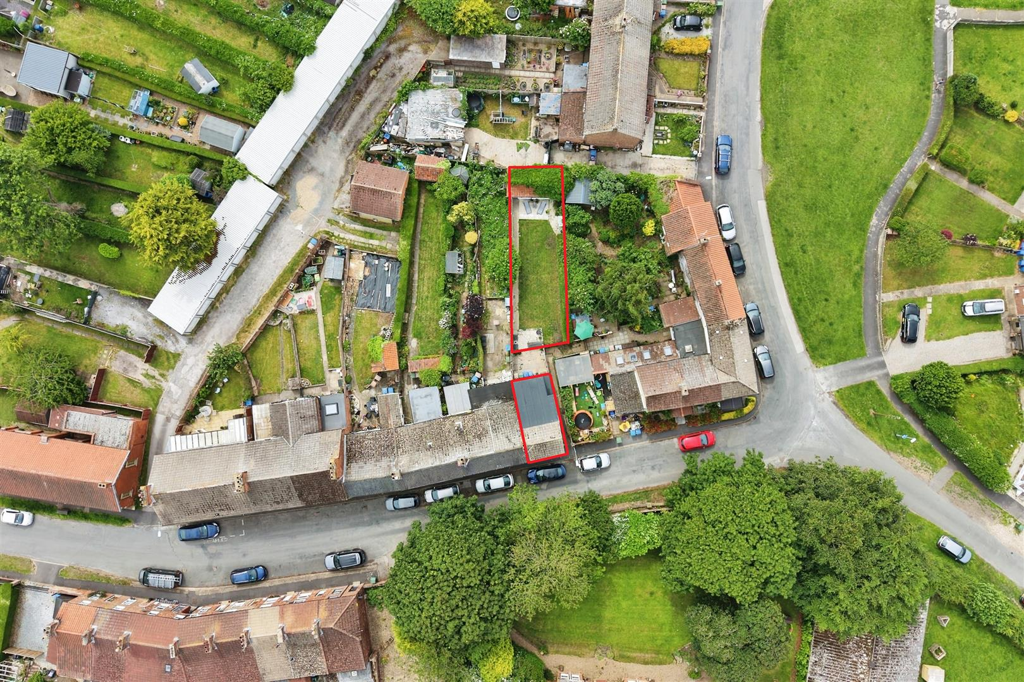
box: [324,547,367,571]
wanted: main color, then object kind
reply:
gray car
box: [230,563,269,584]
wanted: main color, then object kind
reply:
blue car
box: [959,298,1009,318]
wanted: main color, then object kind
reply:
white car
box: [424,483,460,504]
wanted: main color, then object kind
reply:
white car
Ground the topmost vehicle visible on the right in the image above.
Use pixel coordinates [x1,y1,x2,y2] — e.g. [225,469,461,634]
[671,13,702,33]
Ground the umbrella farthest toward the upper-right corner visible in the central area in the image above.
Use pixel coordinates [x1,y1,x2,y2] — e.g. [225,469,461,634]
[573,318,594,339]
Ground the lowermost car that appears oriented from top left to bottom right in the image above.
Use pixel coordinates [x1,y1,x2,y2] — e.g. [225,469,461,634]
[933,532,972,565]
